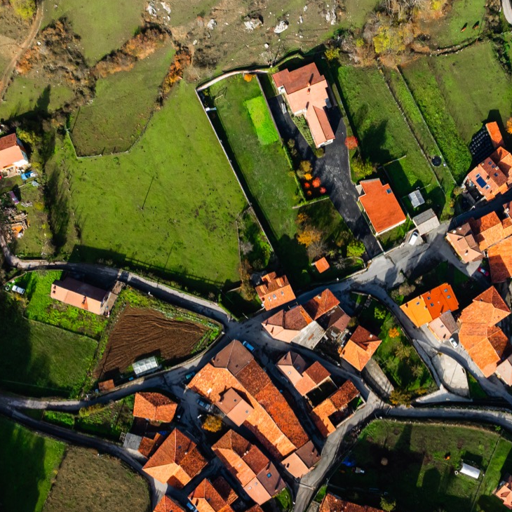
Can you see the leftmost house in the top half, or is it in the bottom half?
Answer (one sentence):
The leftmost house is in the top half of the image.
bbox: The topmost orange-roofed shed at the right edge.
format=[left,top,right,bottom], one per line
[483,122,504,152]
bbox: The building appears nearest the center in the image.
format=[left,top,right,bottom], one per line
[255,273,295,312]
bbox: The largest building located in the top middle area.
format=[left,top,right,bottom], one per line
[272,62,334,152]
